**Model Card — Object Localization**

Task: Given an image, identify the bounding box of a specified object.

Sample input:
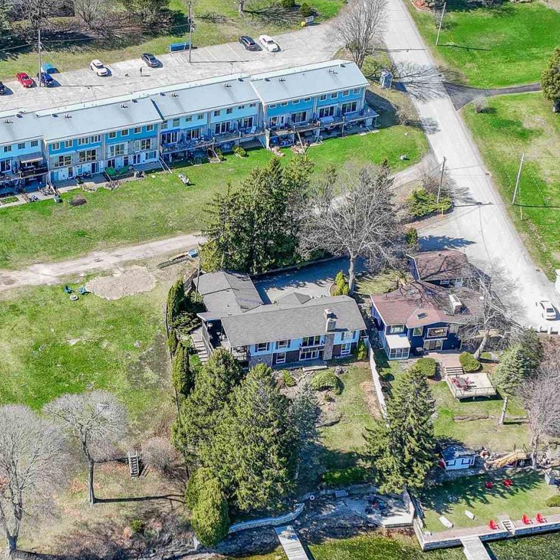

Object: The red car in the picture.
[13,71,35,86]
